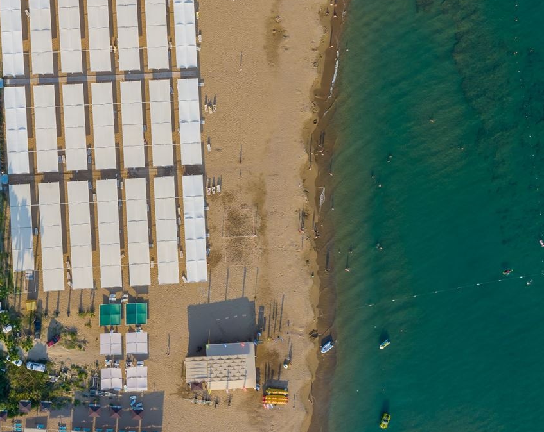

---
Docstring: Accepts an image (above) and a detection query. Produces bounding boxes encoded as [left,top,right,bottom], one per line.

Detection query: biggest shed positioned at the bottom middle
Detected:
[184,341,256,390]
